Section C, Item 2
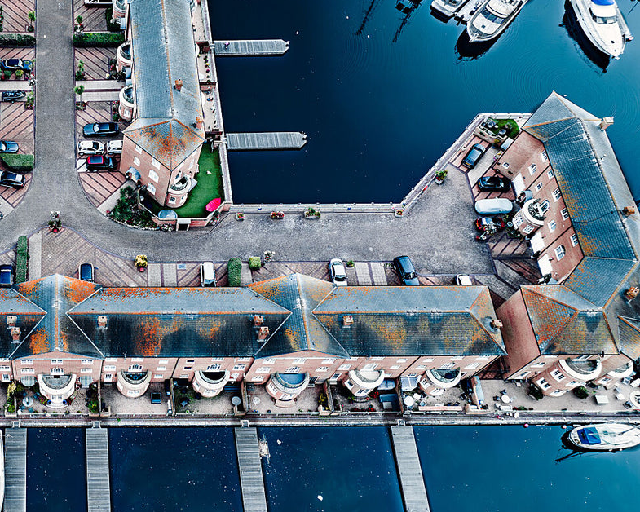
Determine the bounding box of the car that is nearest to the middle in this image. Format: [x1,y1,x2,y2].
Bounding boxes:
[327,259,349,286]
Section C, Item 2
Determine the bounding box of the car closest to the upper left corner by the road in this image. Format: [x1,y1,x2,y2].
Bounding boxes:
[3,58,32,72]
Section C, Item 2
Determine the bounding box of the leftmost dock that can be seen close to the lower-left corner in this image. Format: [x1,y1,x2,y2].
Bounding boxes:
[2,414,26,512]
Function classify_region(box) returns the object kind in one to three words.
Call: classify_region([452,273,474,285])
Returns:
vehicle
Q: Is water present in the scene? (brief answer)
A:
Yes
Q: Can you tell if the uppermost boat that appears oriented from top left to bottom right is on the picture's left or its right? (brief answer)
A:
right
